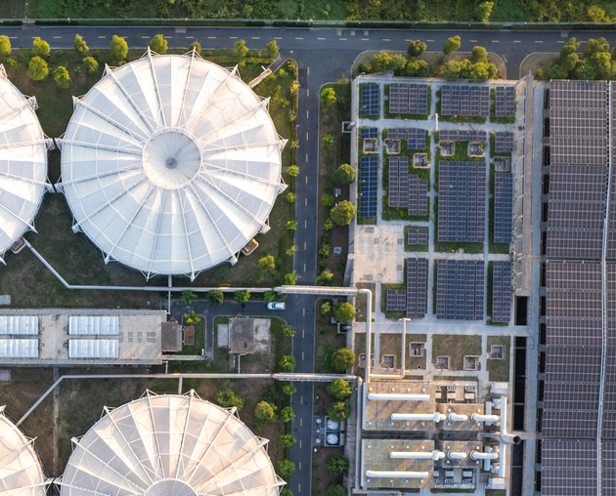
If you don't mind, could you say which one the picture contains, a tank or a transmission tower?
tank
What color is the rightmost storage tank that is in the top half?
white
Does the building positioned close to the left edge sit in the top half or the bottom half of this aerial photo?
bottom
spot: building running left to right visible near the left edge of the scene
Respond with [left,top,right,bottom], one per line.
[0,309,182,364]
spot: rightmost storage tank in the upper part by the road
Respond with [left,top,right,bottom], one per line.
[57,48,289,282]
